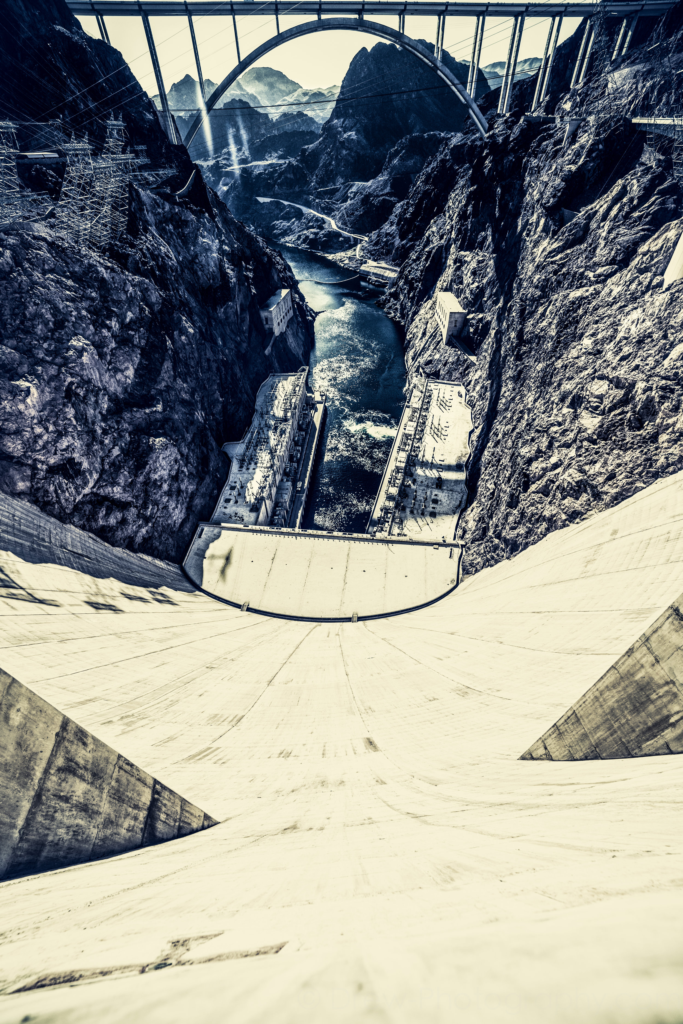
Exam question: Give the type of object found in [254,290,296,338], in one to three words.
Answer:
building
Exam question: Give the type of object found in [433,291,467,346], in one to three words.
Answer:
building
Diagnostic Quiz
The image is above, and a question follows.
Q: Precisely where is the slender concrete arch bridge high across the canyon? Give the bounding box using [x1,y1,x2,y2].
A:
[85,0,671,149]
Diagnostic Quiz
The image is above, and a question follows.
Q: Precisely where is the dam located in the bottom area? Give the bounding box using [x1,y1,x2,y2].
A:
[0,462,683,1024]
